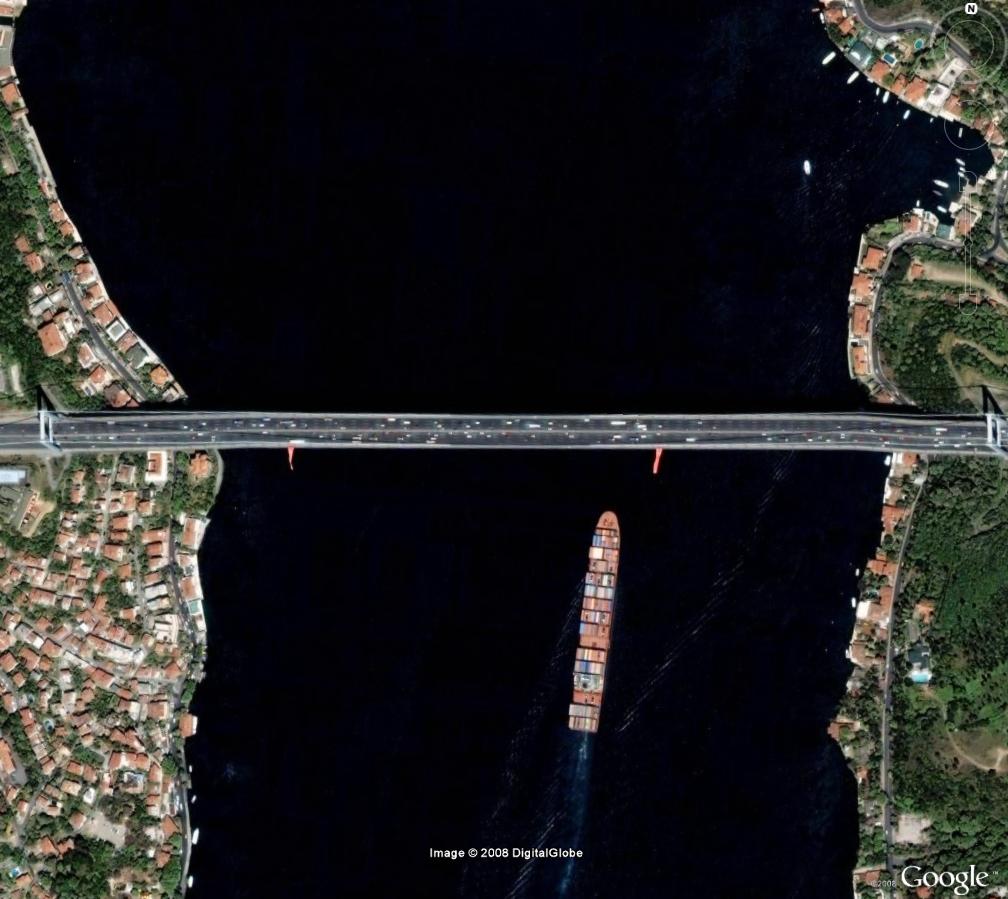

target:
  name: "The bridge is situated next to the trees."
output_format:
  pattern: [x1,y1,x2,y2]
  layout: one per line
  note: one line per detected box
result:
[0,410,1008,463]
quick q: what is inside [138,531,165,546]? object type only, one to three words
house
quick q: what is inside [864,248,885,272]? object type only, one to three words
house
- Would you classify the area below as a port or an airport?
port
